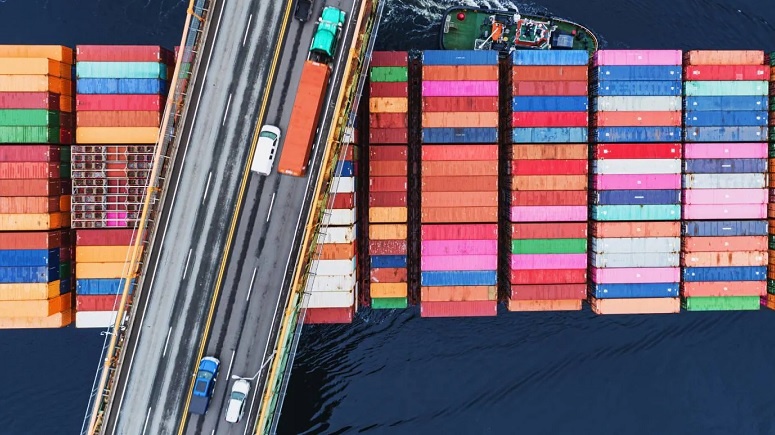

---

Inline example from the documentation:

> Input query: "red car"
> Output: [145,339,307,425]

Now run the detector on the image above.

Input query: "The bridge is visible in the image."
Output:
[83,0,388,435]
